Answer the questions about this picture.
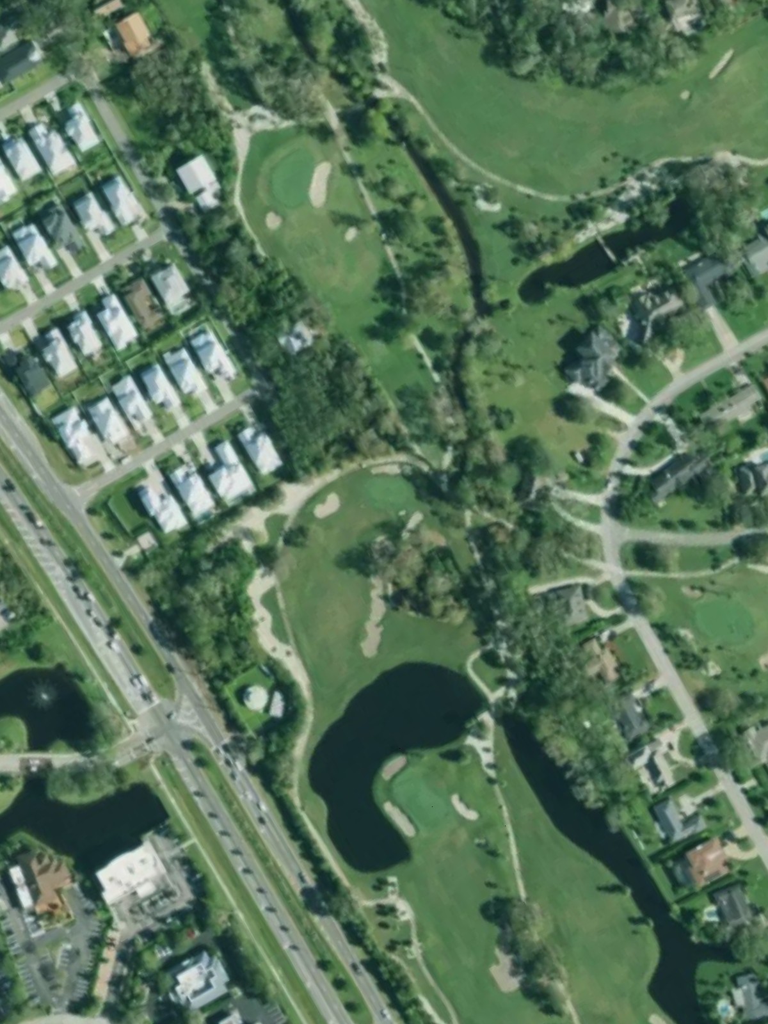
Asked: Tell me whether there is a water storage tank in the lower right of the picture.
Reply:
No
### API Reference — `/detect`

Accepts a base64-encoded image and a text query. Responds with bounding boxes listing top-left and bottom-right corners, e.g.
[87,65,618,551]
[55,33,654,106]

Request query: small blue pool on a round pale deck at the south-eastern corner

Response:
[718,998,734,1023]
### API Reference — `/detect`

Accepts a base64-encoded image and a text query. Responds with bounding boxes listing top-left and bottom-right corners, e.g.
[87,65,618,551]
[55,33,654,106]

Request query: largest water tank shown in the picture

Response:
[243,685,269,710]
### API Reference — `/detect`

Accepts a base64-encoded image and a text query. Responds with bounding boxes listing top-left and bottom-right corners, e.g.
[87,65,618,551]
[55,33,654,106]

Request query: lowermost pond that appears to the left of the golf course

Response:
[0,774,168,884]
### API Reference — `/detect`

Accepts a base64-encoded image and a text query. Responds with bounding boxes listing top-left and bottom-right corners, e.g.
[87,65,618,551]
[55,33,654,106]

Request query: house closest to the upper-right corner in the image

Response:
[668,0,699,33]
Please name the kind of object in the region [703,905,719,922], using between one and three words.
swimming pool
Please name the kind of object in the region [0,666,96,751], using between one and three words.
pond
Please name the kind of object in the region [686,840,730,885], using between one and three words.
house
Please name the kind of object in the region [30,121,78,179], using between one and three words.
house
